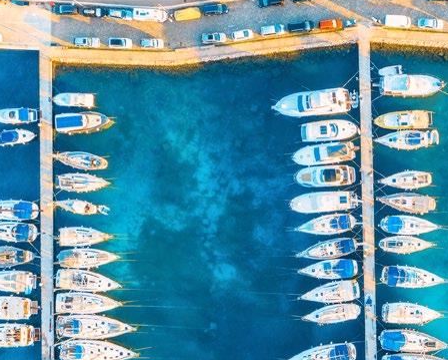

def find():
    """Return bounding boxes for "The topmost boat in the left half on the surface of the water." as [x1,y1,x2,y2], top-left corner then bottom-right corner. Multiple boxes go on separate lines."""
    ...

[52,93,106,111]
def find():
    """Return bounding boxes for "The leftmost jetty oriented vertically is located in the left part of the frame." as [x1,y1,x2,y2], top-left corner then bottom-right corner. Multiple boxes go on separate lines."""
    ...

[39,50,56,360]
